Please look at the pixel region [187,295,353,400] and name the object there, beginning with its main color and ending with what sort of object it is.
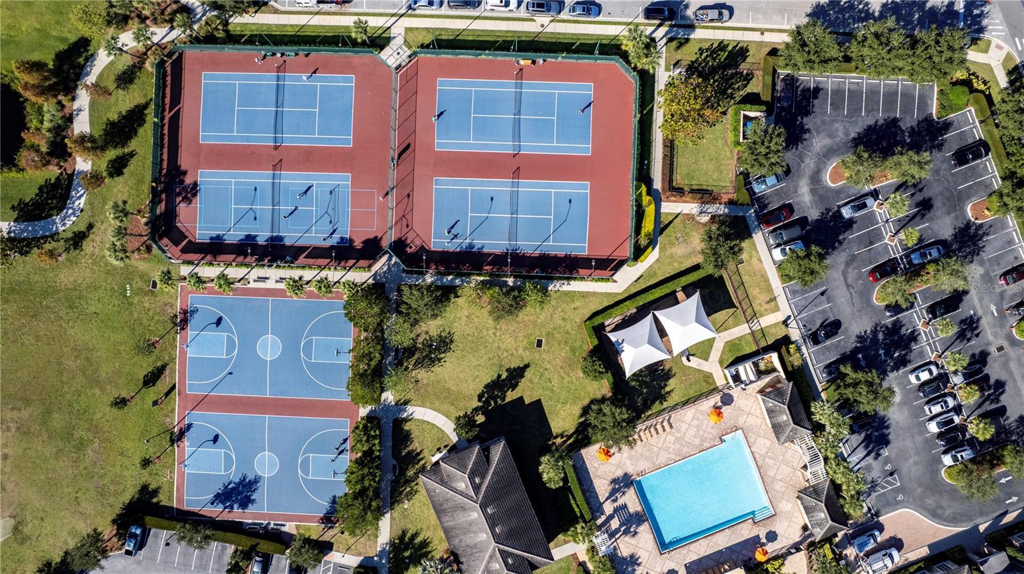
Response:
blue basketball court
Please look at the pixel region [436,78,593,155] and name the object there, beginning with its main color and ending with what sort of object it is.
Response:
blue tennis court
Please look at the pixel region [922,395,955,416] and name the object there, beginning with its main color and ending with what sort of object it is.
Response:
white car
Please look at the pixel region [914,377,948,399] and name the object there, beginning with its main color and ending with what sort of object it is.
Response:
black car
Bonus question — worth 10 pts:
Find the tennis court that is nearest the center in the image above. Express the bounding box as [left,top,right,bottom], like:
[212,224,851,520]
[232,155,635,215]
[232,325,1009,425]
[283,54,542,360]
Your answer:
[432,178,590,254]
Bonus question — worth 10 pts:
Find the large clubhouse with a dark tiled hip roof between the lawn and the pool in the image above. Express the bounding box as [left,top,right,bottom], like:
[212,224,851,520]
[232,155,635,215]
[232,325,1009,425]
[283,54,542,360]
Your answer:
[419,431,554,574]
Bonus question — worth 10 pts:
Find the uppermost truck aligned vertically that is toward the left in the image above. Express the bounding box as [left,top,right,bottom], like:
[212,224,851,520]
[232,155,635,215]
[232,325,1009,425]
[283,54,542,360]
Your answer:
[123,522,145,560]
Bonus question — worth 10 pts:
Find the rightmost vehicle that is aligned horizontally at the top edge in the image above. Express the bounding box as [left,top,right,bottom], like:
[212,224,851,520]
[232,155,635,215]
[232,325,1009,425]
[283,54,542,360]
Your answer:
[692,8,729,24]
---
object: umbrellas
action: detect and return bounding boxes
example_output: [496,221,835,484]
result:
[754,546,769,562]
[597,448,612,462]
[708,409,723,424]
